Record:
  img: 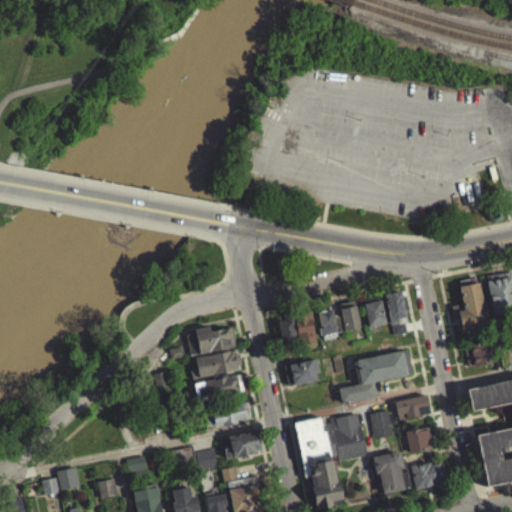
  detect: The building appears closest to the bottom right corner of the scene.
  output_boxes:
[478,428,512,486]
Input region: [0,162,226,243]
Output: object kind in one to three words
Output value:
bridge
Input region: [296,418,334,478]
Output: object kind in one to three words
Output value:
building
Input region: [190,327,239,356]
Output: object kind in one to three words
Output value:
house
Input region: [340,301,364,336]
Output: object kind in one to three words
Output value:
house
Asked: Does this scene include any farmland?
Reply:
No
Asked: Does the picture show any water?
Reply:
Yes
